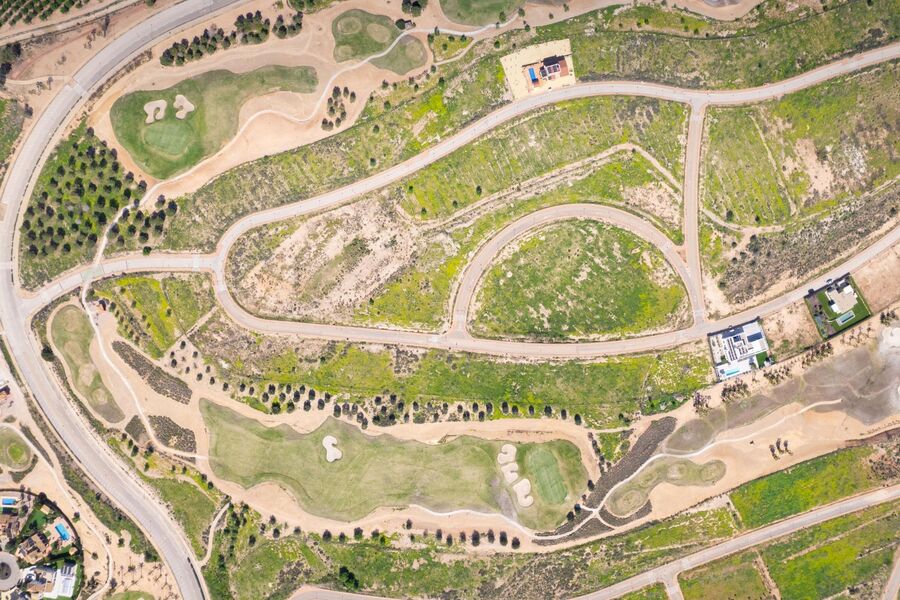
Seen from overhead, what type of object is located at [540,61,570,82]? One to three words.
house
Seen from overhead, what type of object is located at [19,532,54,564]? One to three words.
house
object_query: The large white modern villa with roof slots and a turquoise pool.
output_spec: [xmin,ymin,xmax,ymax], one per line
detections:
[722,328,768,362]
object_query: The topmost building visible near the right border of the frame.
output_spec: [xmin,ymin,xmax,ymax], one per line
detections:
[823,280,858,313]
